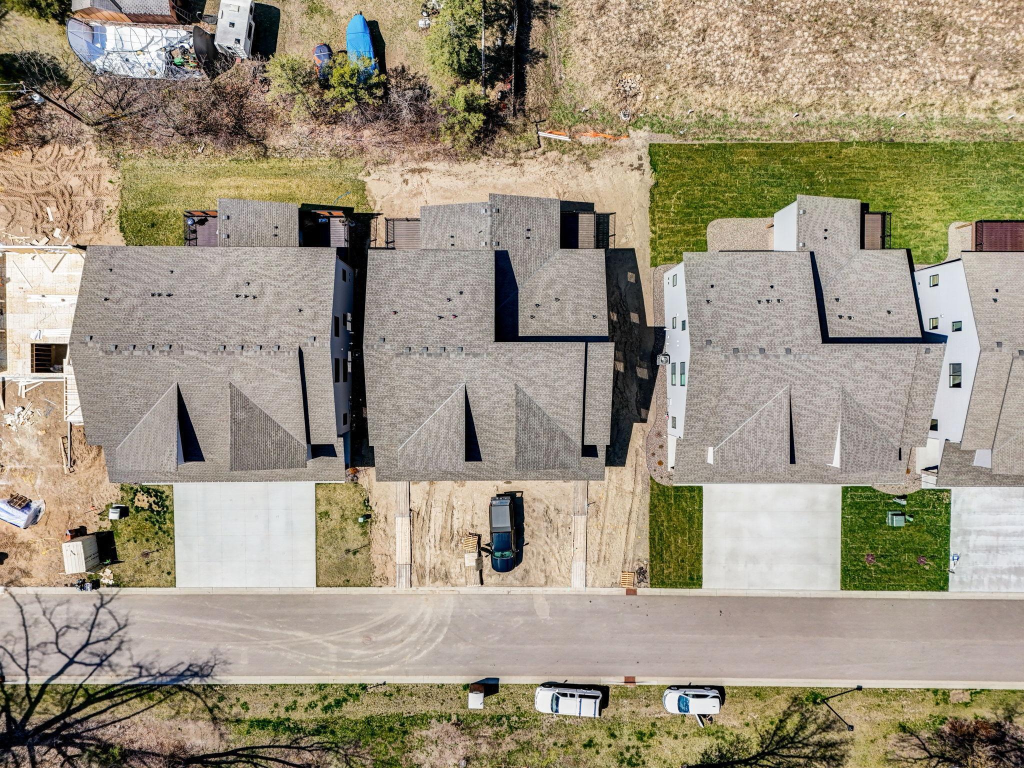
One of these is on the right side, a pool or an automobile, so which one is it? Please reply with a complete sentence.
The feature located on the right side is an automobile.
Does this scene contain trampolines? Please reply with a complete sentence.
No, there's no trampoline here.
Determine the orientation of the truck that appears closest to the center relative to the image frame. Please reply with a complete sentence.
From this overhead view, the truck that appears closest to the center appears to run vertically.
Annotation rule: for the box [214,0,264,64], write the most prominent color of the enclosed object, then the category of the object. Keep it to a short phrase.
white camper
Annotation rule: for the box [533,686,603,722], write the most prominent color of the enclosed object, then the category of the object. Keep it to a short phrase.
white truck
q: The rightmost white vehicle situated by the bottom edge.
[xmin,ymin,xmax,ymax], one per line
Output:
[667,690,722,730]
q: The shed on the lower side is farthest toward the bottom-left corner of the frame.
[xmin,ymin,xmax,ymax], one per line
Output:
[61,535,99,575]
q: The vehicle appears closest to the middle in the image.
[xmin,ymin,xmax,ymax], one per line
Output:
[478,493,519,573]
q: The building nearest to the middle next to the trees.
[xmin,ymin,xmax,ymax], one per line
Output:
[363,193,615,482]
